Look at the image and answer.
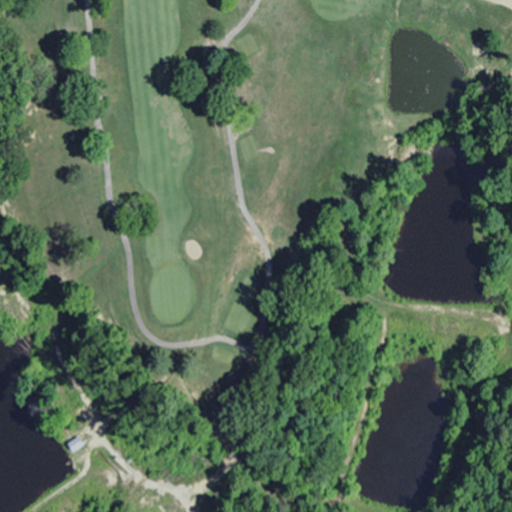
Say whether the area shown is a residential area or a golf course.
golf course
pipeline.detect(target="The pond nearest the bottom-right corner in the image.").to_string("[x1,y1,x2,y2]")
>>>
[356,356,449,510]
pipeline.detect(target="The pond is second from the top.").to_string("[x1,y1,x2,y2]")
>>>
[385,138,490,304]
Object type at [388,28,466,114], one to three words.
pond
